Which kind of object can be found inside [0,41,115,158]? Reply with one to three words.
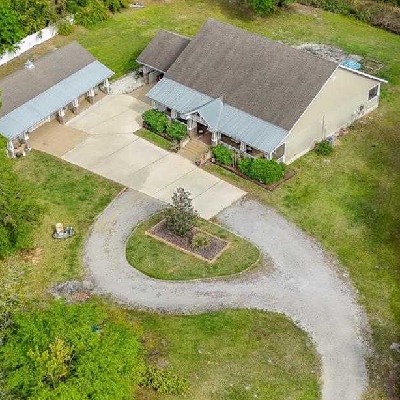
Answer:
building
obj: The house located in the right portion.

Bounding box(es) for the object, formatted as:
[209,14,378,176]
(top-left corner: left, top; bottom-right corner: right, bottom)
[135,18,389,170]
